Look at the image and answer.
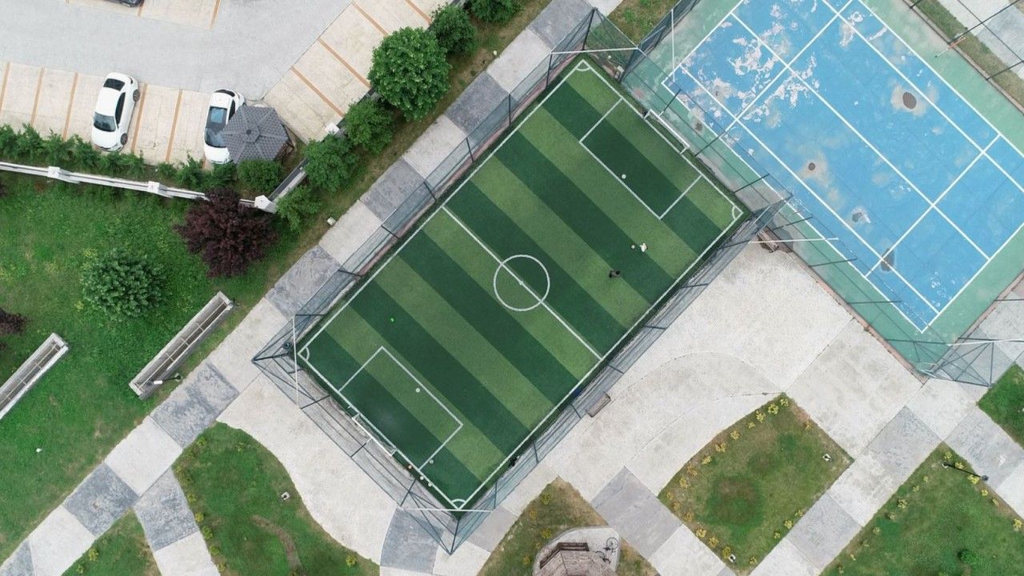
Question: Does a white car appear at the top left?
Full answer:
Yes, I can see a white car at the top left.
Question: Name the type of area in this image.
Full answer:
The area seen from above is a sports ground.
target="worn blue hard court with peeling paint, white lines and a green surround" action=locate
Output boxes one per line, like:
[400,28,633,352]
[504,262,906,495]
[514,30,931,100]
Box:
[621,0,1024,379]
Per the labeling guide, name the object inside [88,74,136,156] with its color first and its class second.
white car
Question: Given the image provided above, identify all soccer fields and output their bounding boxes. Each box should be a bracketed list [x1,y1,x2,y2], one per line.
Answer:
[282,45,757,524]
